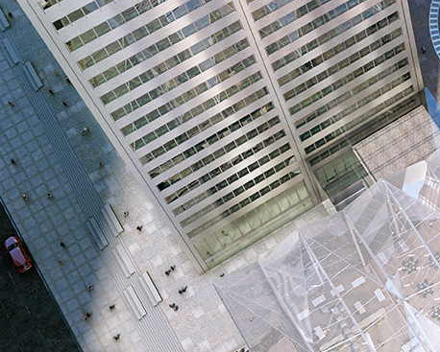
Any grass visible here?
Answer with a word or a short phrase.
No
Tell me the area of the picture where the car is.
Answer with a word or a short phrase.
bottom left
